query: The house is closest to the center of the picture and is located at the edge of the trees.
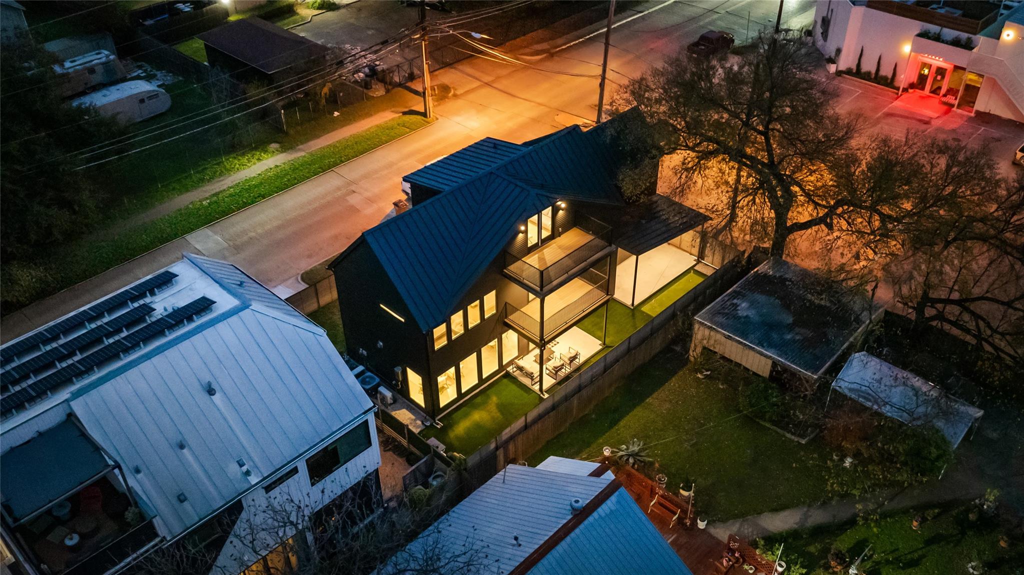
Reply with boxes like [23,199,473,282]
[323,104,713,430]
